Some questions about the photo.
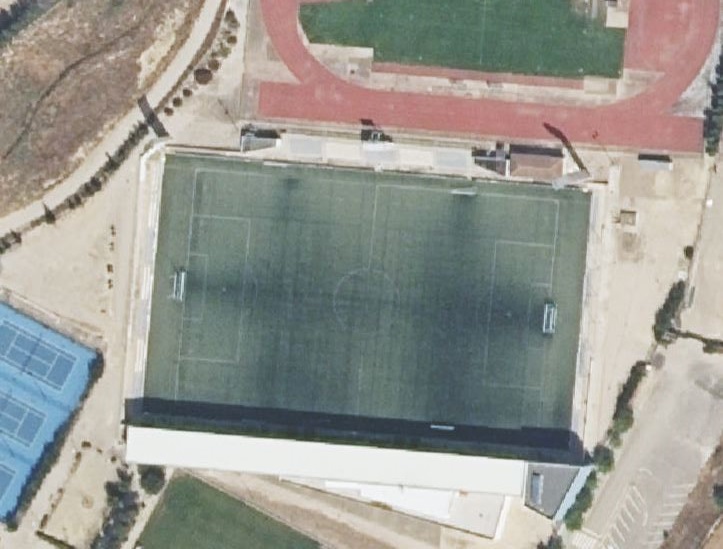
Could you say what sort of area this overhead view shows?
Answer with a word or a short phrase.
sports ground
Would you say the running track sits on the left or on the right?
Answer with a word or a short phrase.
right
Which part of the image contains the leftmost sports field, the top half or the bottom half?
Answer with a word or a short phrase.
bottom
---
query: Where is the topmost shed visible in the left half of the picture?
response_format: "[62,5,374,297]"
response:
[241,136,280,154]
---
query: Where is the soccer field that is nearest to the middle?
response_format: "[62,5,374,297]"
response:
[143,154,590,451]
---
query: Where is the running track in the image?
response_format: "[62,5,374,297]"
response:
[258,0,720,155]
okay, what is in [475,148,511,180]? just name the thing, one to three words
building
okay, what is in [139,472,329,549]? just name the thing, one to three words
sports field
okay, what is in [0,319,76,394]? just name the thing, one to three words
tennis court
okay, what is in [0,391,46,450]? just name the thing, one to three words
tennis court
